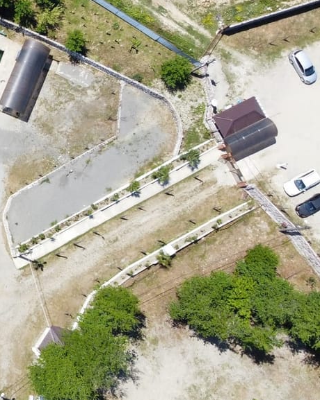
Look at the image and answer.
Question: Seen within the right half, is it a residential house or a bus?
residential house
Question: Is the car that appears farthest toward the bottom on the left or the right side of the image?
right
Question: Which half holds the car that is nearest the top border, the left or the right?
right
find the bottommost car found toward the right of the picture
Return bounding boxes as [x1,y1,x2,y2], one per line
[293,194,320,218]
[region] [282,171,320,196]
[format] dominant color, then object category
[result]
white car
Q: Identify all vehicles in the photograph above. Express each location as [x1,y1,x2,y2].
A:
[282,171,320,196]
[293,194,320,218]
[289,51,315,83]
